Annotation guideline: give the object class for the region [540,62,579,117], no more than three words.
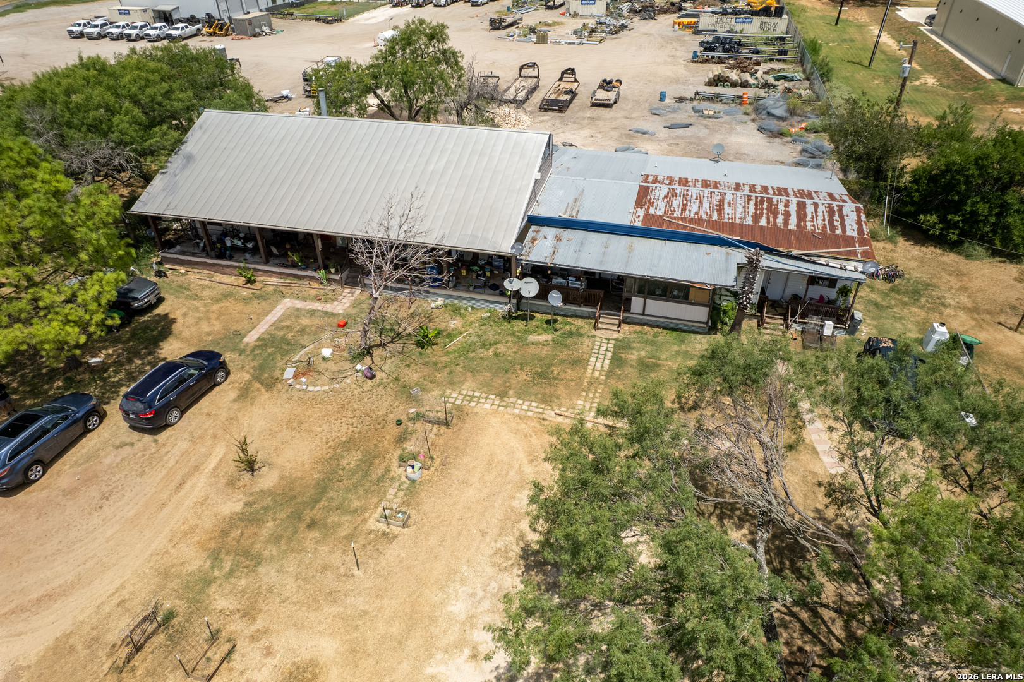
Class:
trailer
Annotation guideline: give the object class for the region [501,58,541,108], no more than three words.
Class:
trailer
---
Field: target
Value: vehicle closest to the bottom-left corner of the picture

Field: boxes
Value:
[0,397,101,492]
